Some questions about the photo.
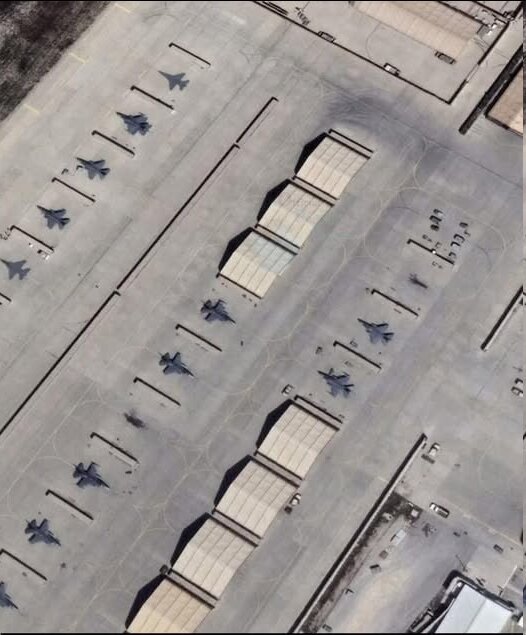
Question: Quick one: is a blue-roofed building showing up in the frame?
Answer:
No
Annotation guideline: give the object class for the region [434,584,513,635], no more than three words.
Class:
building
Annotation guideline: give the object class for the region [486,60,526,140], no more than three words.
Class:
building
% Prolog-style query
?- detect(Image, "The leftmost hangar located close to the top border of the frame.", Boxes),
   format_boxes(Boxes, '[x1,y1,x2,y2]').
[337,0,484,62]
